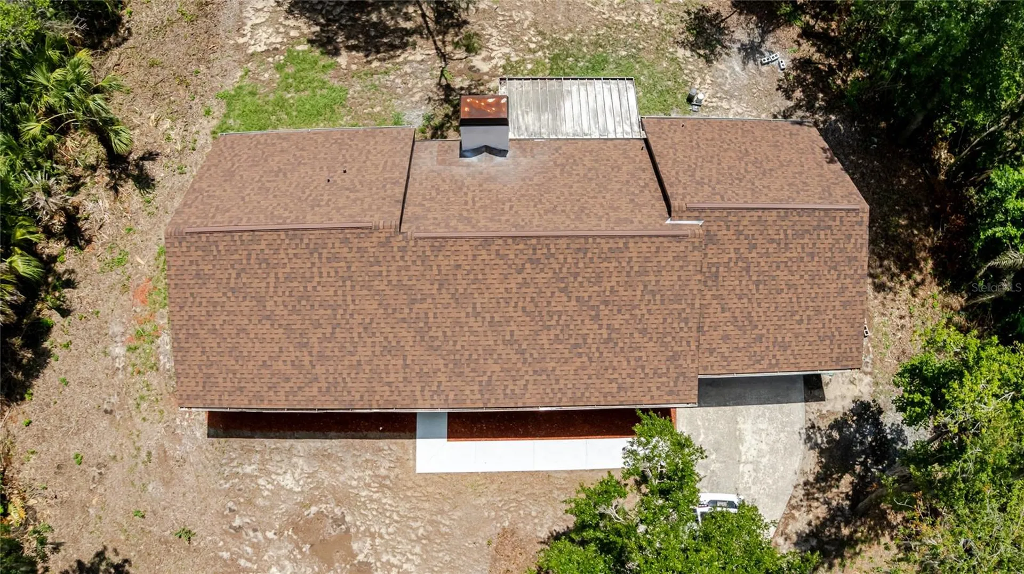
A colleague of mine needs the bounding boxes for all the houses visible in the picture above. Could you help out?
[166,78,869,414]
